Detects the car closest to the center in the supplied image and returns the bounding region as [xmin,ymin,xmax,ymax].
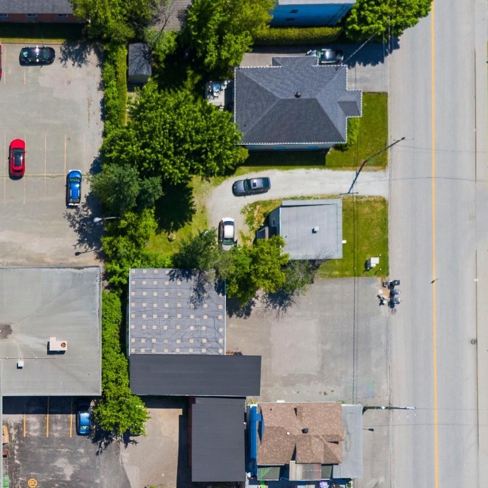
[218,217,235,254]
